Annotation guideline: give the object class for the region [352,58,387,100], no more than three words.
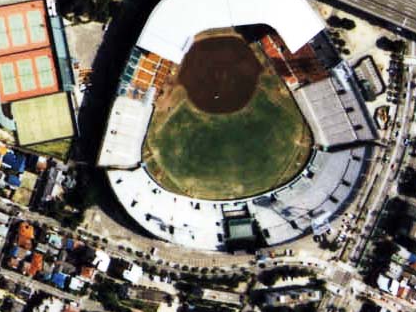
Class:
building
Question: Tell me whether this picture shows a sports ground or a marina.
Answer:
sports ground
